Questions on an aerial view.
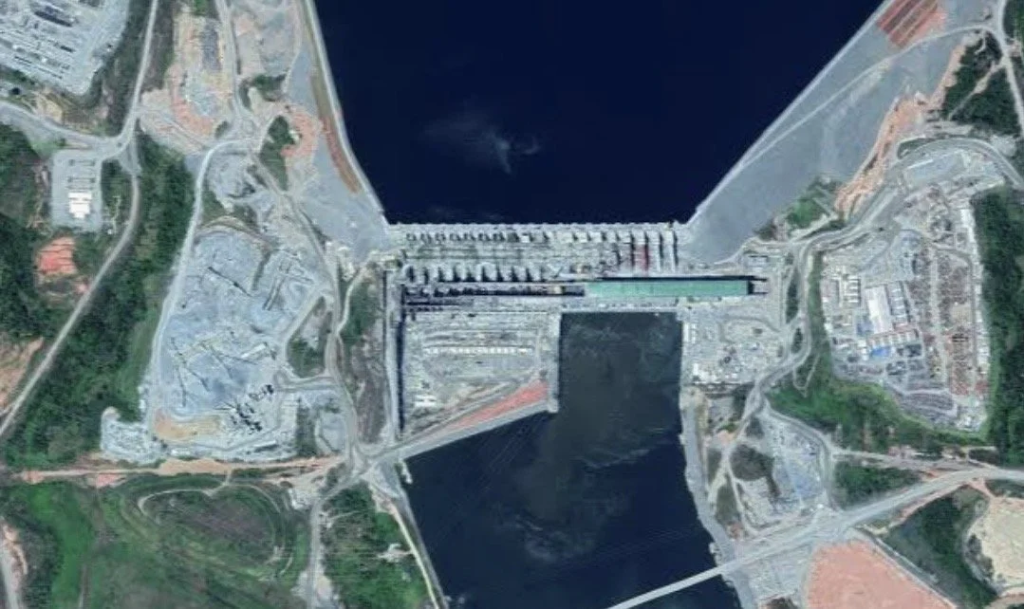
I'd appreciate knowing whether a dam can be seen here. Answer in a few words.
Yes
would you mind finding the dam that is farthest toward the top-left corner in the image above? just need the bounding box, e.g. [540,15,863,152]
[298,0,389,261]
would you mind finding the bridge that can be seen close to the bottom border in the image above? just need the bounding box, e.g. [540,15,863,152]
[605,558,739,609]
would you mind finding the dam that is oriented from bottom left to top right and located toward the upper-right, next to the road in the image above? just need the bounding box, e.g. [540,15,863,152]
[687,0,928,267]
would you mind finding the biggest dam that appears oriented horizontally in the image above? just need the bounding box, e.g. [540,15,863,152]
[387,223,689,285]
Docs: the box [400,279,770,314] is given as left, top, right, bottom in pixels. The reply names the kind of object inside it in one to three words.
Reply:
building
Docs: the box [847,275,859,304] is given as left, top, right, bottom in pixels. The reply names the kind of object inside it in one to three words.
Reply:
building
